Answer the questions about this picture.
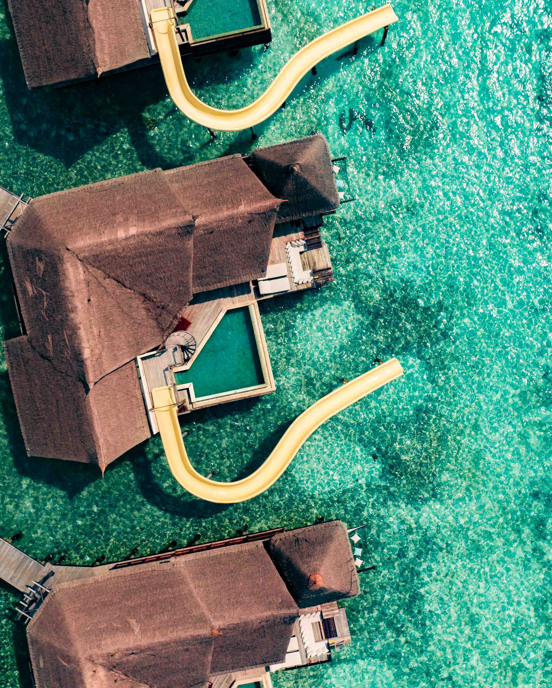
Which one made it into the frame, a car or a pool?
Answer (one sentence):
I can see a pool in this picture.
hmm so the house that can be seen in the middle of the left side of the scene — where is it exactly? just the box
[1,153,287,475]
